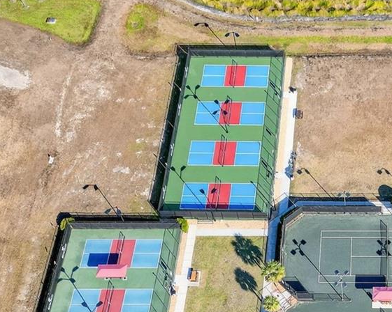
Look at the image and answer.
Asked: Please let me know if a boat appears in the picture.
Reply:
No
